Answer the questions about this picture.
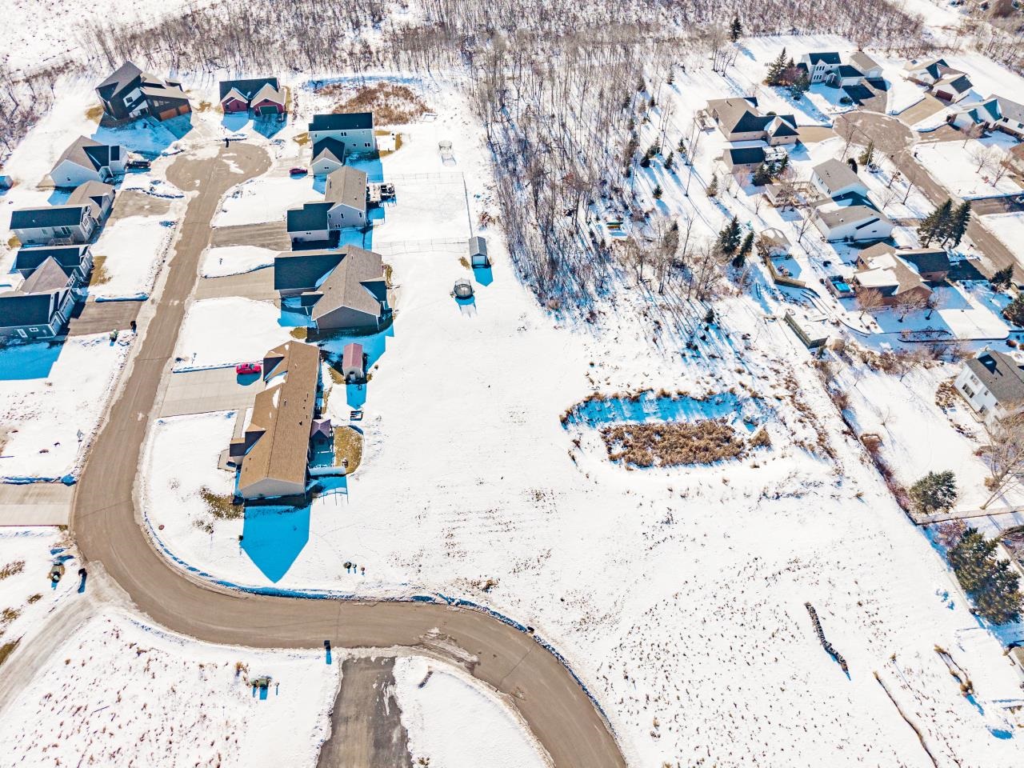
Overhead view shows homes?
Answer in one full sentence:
Yes, this view includes a home.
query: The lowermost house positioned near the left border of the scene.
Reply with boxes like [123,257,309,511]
[0,245,101,339]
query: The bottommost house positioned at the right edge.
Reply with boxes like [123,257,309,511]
[954,345,1024,434]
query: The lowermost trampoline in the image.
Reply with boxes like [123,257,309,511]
[452,281,473,301]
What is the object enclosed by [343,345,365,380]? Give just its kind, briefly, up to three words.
shed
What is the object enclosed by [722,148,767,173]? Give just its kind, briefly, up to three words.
building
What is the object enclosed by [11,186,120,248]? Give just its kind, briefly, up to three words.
house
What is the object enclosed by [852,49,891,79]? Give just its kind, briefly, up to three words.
building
